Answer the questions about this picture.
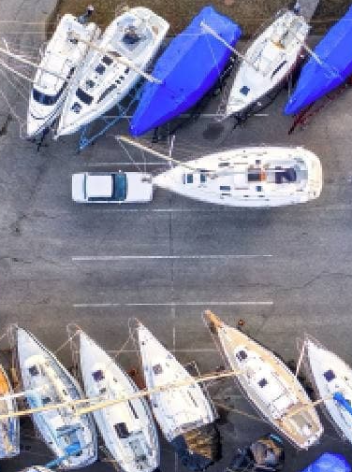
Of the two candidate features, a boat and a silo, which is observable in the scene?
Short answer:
boat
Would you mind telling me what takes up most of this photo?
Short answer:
paved ground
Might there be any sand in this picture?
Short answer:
No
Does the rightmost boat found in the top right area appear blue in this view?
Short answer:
Yes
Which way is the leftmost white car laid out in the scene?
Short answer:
horizontally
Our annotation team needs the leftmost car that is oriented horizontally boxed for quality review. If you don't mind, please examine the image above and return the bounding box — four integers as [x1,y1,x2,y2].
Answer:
[71,168,157,206]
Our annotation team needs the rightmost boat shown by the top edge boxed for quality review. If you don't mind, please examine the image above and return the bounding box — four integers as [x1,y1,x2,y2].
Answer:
[282,6,352,114]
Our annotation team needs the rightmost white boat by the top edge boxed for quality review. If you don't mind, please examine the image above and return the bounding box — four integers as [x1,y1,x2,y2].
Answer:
[198,11,308,118]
